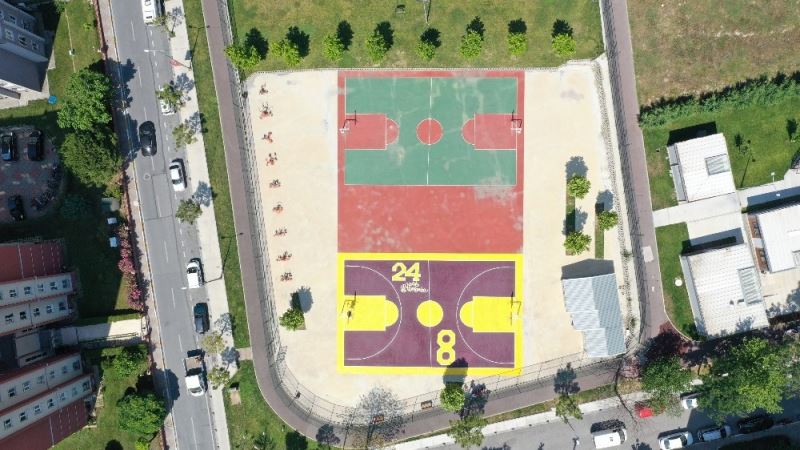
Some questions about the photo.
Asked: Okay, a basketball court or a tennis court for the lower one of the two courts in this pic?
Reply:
basketball court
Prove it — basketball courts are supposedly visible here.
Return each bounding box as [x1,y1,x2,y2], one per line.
[338,70,525,253]
[338,252,523,375]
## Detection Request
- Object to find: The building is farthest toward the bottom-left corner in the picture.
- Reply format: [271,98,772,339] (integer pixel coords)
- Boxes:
[0,241,95,450]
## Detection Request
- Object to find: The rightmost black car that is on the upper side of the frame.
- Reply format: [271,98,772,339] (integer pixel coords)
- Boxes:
[135,119,156,157]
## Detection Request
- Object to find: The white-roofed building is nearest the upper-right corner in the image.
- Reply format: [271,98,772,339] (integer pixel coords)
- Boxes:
[668,134,736,202]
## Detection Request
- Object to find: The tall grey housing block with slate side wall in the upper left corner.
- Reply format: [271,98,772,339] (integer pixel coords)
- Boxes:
[0,0,49,105]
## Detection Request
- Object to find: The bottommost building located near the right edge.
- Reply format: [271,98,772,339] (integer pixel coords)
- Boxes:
[678,242,769,338]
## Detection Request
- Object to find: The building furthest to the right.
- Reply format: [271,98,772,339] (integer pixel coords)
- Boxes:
[745,201,800,274]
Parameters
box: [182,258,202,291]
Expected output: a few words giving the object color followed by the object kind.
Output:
white car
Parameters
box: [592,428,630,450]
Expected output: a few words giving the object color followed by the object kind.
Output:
white vehicle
